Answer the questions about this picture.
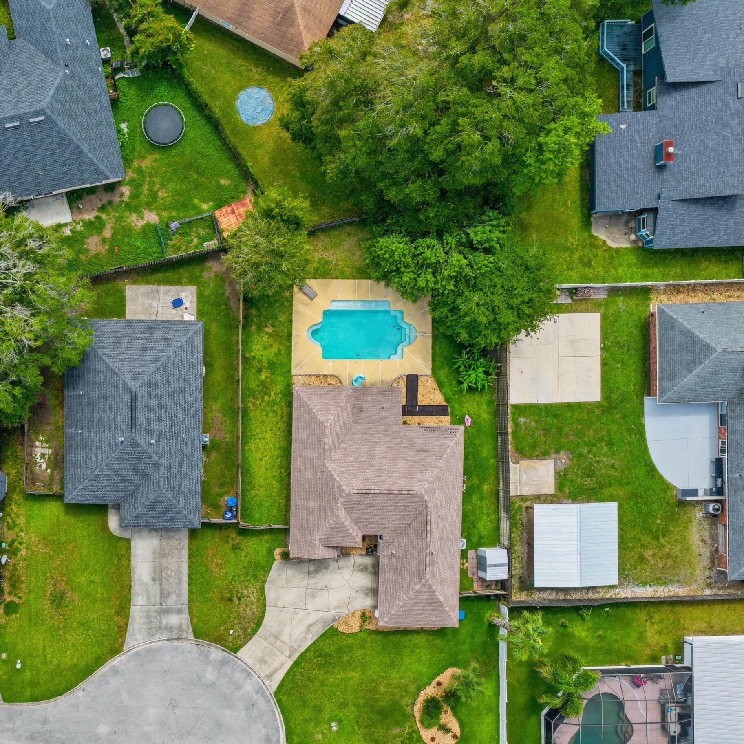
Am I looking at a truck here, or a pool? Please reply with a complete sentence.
Of the two, only a pool appears.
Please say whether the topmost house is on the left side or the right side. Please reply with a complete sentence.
The topmost house sits on the left side.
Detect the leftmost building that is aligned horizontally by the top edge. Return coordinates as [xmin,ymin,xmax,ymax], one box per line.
[165,0,342,76]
